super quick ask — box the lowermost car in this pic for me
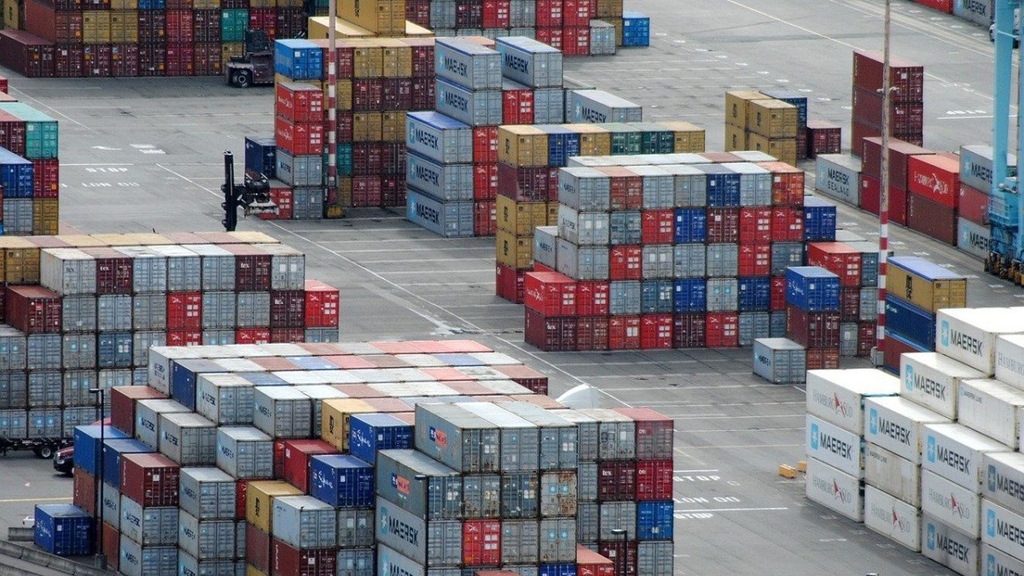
[16,504,35,527]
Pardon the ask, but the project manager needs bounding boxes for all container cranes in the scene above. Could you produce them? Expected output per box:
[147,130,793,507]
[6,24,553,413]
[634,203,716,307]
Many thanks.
[984,0,1024,278]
